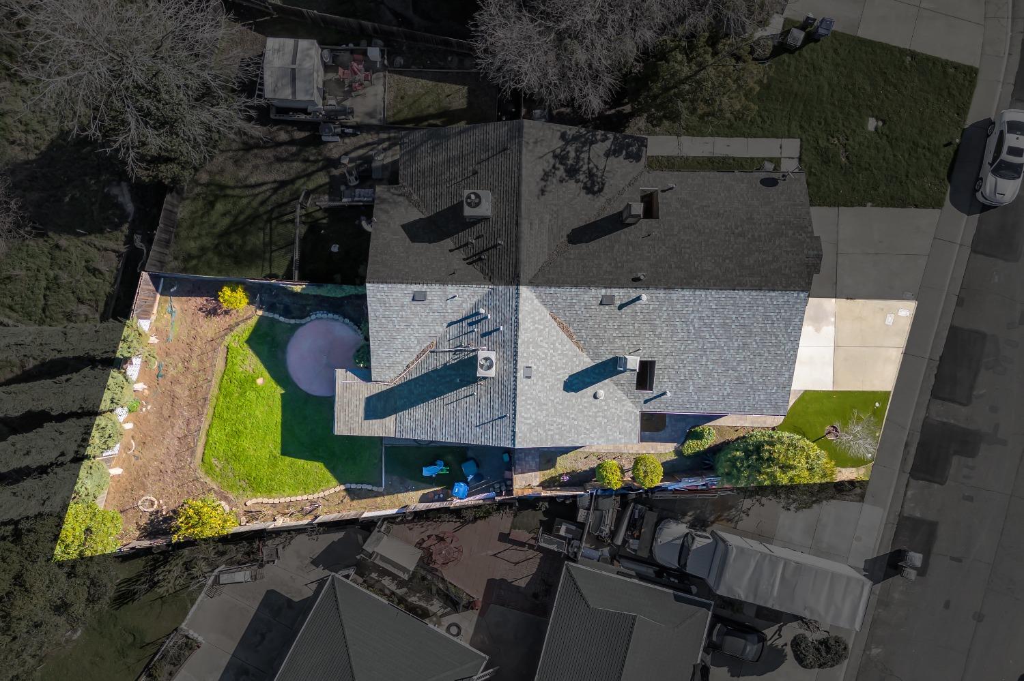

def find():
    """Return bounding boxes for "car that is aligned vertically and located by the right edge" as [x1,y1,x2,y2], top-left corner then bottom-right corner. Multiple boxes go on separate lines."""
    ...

[976,102,1024,207]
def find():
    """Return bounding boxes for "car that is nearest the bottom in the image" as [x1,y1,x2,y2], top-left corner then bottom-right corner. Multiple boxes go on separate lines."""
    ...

[703,620,779,673]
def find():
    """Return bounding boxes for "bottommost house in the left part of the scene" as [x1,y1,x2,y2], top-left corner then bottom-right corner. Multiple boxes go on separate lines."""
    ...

[273,569,491,681]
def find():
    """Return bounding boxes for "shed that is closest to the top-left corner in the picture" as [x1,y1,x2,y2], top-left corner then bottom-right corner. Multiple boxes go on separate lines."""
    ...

[264,34,330,114]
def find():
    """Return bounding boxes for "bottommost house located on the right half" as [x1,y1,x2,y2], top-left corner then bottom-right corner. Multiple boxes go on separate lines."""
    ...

[534,557,716,681]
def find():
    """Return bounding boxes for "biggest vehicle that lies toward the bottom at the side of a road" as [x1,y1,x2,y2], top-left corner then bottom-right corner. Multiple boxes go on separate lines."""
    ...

[645,514,872,631]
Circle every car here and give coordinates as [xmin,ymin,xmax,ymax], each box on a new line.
[703,620,779,673]
[976,102,1024,207]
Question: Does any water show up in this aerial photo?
No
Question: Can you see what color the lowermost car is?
black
